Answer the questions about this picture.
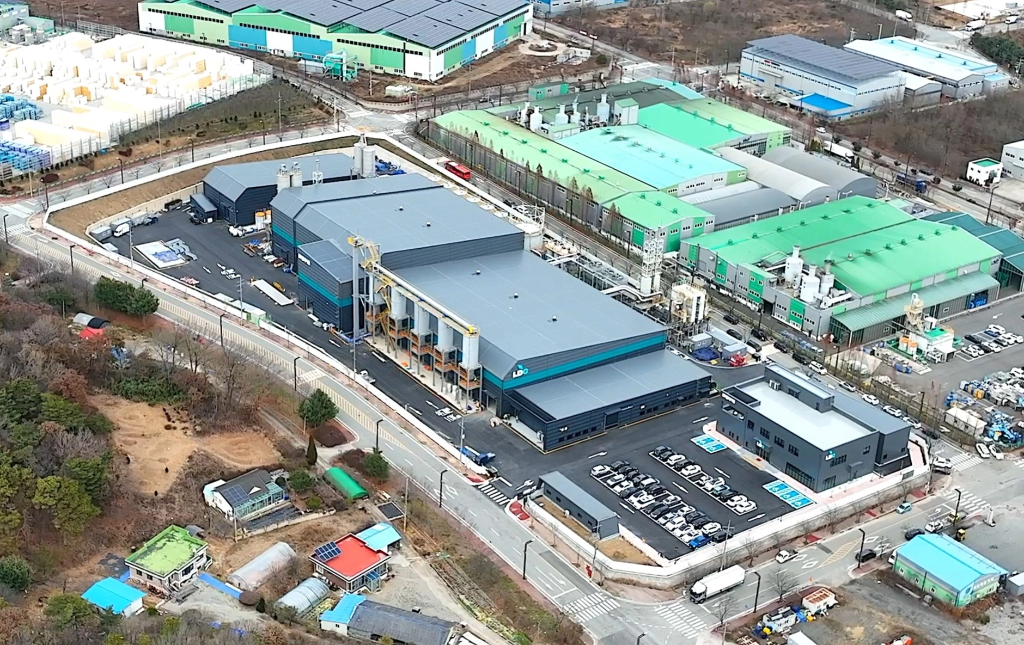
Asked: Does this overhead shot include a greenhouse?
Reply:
Yes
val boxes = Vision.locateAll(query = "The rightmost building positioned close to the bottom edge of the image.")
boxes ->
[894,536,1002,613]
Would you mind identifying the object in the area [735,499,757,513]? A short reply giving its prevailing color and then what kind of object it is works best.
white car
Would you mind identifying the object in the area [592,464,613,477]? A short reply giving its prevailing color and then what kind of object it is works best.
white vehicle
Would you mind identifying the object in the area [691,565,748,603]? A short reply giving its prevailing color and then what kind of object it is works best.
white truck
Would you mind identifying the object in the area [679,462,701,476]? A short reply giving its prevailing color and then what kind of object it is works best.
white car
